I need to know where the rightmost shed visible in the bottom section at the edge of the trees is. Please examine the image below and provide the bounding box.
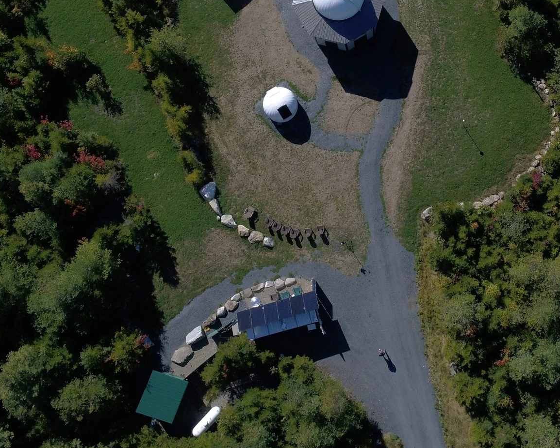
[238,291,322,340]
